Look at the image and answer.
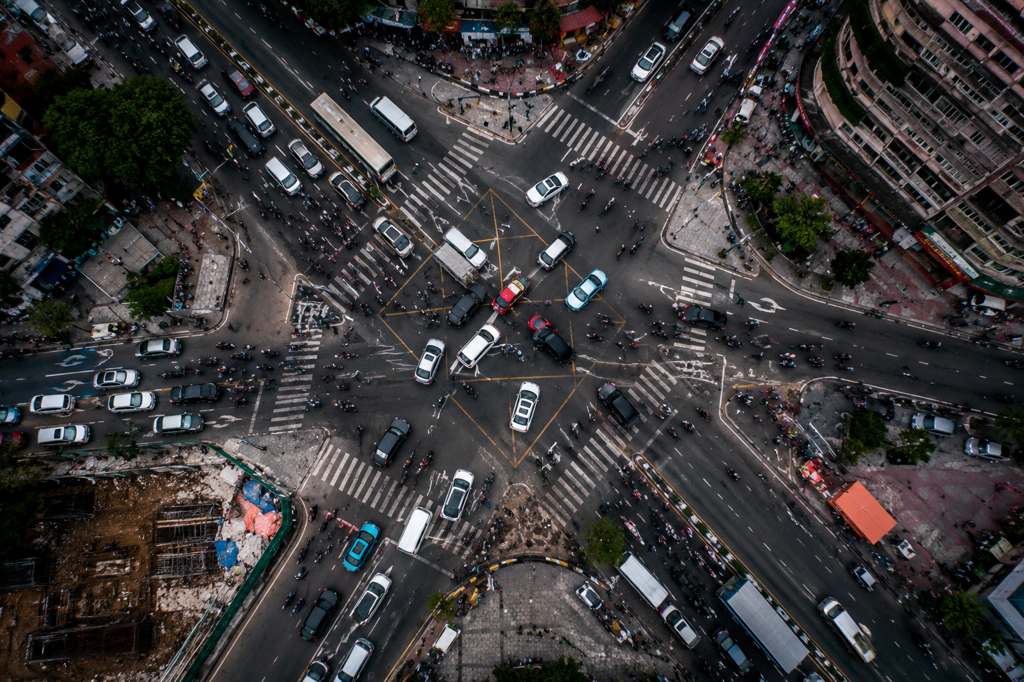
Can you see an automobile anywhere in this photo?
Yes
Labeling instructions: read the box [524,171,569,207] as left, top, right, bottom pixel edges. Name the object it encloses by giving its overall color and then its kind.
white car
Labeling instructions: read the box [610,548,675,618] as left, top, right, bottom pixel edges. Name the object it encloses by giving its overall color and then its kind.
white truck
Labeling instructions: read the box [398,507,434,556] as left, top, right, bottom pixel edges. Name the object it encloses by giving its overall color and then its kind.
white van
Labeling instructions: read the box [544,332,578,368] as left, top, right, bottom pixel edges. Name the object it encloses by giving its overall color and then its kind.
black car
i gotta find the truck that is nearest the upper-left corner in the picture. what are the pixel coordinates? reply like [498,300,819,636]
[10,0,58,31]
